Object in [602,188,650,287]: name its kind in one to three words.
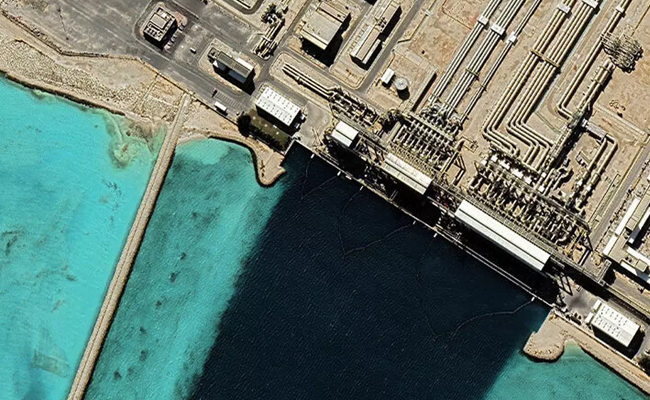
building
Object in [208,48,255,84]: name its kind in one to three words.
building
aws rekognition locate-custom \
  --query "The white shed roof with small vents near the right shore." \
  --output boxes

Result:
[583,300,640,349]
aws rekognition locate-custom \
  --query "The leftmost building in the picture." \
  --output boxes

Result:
[143,6,178,43]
